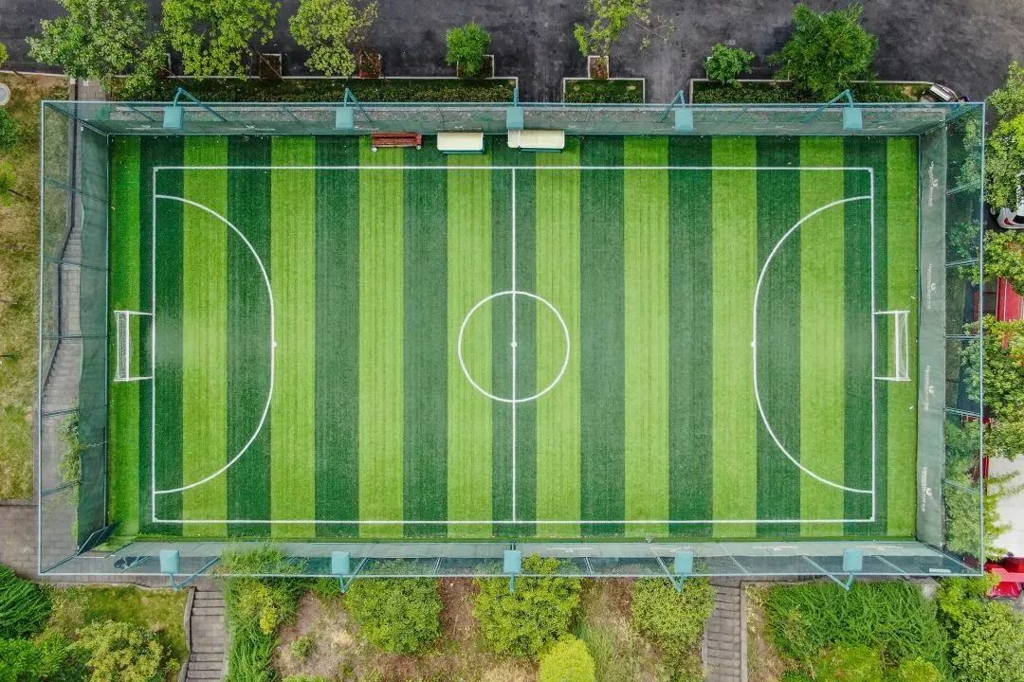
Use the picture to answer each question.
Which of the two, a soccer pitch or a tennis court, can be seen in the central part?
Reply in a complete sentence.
The feature located in the central part is a soccer pitch.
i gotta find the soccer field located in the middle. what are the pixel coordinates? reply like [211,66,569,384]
[108,135,919,547]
